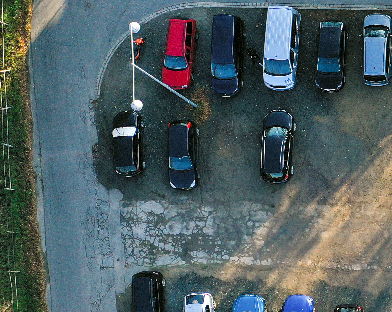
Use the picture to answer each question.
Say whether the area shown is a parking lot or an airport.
parking lot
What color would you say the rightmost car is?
blue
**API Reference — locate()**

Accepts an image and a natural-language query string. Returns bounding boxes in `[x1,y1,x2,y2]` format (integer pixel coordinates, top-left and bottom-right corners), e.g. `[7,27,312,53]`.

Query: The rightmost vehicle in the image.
[357,12,392,89]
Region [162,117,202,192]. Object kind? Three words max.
car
